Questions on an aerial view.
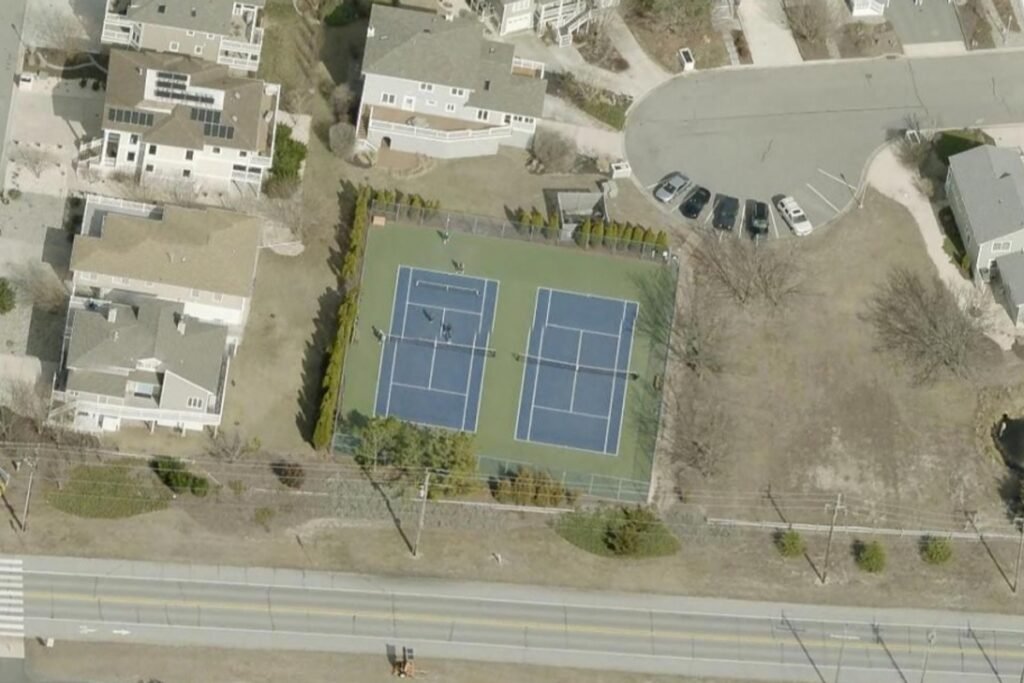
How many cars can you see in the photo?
five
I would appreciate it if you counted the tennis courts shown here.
2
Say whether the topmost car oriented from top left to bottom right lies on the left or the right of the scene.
right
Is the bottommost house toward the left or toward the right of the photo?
left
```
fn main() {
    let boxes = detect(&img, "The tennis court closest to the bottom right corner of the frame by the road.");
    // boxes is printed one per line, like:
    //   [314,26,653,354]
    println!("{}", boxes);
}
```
[491,244,677,502]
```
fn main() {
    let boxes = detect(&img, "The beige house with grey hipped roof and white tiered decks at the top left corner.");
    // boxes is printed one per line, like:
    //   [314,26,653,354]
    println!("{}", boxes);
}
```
[97,0,272,78]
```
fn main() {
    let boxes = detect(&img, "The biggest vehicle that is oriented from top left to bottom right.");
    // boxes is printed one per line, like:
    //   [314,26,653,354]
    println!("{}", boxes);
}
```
[780,197,812,235]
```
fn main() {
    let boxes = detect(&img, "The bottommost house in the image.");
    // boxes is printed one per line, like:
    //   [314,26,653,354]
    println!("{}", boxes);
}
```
[38,291,239,441]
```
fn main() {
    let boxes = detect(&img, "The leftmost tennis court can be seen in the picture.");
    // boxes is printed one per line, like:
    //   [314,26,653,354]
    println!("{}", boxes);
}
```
[334,223,520,478]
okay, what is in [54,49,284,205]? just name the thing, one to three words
house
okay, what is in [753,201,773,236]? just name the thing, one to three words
car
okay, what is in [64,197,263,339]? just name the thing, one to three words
house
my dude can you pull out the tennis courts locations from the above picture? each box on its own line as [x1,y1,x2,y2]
[334,223,520,478]
[491,244,677,502]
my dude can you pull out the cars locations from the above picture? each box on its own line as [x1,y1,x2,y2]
[780,197,812,235]
[682,188,715,219]
[715,194,740,232]
[656,176,692,204]
[753,201,773,236]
